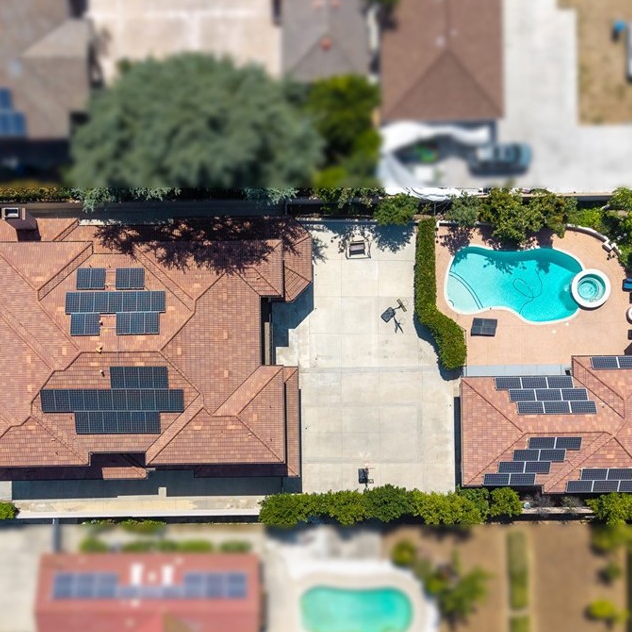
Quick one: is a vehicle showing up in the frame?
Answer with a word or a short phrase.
Yes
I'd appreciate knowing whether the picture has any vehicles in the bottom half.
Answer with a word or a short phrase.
No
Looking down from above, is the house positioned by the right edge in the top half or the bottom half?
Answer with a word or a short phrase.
bottom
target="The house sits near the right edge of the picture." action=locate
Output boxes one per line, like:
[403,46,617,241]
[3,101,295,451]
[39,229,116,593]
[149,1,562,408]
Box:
[459,355,632,494]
